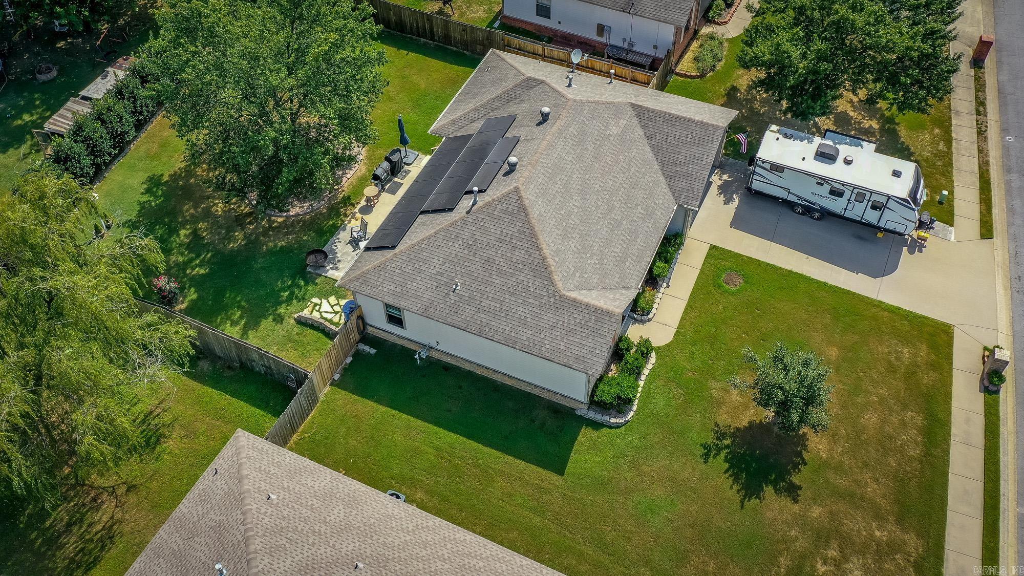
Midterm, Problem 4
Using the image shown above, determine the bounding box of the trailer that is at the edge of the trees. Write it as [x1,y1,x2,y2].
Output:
[744,125,946,240]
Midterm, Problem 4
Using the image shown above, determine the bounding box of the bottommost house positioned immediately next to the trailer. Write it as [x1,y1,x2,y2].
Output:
[334,48,739,407]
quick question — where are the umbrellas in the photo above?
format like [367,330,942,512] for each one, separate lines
[402,114,424,166]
